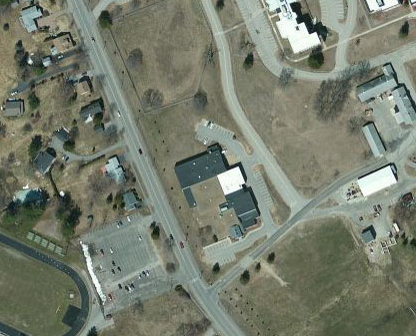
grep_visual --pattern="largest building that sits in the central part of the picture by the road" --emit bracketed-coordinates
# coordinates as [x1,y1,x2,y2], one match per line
[175,144,259,229]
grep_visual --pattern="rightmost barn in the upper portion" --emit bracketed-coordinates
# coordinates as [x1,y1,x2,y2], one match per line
[388,83,416,122]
